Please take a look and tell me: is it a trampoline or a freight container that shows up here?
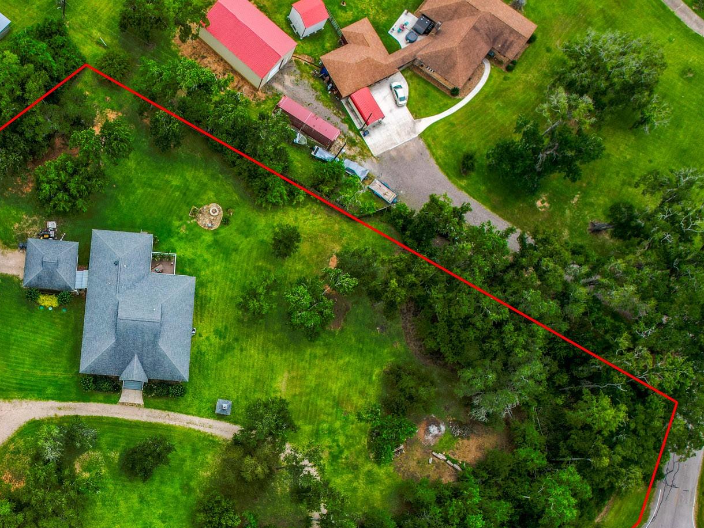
freight container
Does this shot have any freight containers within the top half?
Yes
